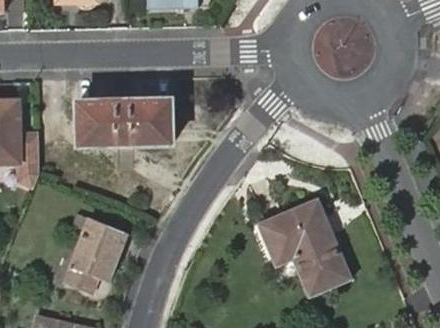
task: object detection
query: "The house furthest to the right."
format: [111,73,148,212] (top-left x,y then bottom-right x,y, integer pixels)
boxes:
[256,198,355,298]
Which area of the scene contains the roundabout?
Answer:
top right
